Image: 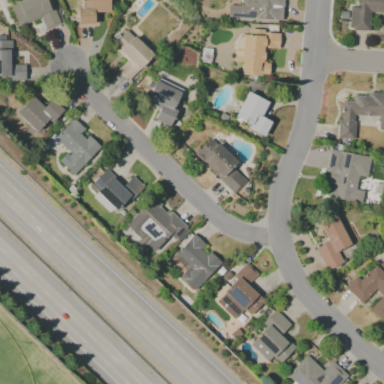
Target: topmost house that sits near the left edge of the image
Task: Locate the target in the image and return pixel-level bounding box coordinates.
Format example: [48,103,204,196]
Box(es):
[12,0,62,28]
